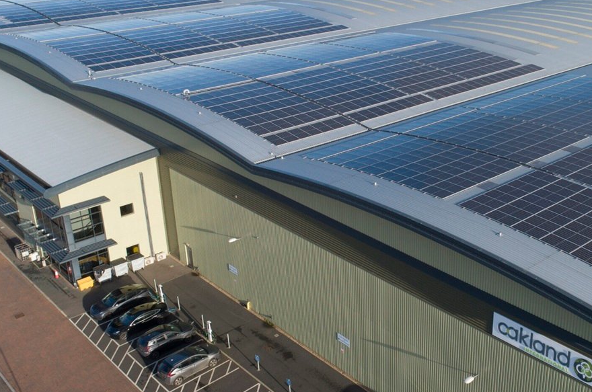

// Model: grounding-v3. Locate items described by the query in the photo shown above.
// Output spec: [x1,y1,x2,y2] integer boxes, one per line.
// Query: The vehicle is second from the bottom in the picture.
[136,318,202,357]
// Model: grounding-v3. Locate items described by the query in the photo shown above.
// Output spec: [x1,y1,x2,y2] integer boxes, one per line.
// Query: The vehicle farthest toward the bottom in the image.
[162,345,225,383]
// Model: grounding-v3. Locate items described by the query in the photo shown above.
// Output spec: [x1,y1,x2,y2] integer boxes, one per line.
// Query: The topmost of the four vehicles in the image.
[87,281,150,315]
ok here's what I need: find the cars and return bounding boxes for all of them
[87,281,150,315]
[162,345,225,383]
[106,297,172,335]
[136,318,202,357]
